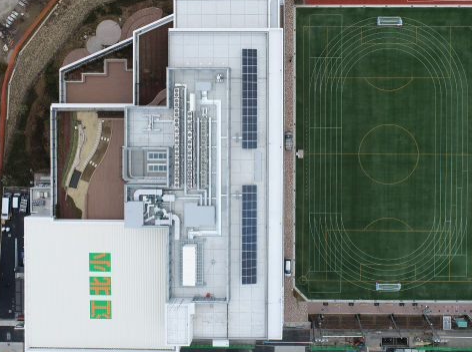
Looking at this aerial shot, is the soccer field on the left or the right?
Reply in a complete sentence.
The soccer field appears in the right half of the scene.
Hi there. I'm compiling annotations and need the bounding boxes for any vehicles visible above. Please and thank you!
[344,337,367,348]
[10,188,21,207]
[17,192,29,215]
[0,190,15,218]
[285,131,293,150]
[285,258,293,275]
